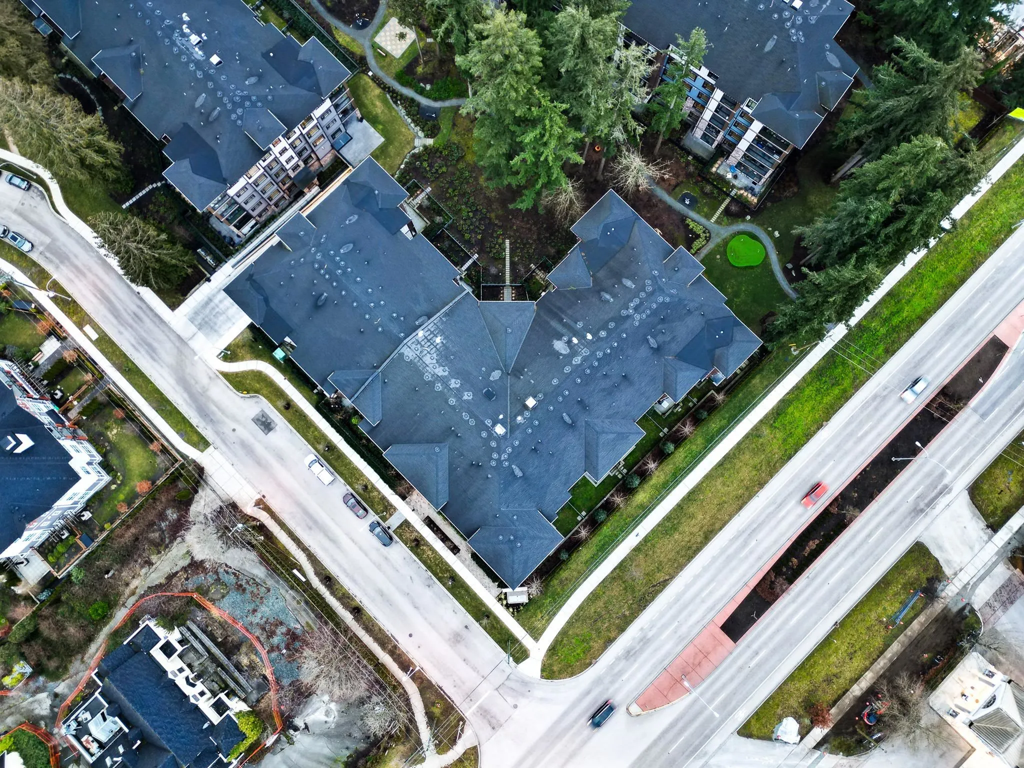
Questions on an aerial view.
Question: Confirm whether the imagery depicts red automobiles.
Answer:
Yes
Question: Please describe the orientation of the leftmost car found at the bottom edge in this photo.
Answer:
on a diagonal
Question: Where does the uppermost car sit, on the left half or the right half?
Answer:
left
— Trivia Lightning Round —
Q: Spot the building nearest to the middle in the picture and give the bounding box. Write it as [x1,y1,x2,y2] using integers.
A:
[223,155,764,603]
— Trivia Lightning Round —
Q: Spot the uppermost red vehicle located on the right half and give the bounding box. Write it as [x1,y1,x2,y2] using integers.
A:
[801,479,832,510]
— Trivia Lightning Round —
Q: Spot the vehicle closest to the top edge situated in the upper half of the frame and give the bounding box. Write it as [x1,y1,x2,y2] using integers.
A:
[0,167,32,191]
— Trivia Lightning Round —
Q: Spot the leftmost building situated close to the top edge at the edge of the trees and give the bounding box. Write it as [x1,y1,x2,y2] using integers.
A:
[21,0,373,245]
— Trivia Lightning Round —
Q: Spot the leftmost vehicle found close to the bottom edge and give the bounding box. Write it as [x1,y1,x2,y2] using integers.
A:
[587,698,618,733]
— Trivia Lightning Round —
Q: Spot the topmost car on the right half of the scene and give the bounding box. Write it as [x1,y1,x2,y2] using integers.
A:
[900,373,933,405]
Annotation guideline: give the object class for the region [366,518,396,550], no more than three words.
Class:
car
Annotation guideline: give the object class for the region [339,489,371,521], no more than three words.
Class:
car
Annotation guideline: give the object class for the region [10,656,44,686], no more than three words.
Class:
shed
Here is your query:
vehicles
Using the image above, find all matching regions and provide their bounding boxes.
[300,451,338,487]
[0,167,32,191]
[339,489,371,521]
[587,698,618,733]
[900,373,933,405]
[4,227,34,253]
[863,700,892,729]
[801,479,832,510]
[366,518,396,550]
